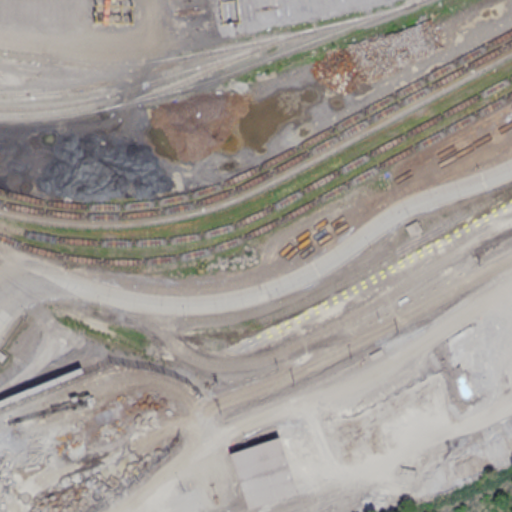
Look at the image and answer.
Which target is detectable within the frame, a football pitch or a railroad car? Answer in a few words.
railroad car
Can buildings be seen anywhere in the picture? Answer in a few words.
Yes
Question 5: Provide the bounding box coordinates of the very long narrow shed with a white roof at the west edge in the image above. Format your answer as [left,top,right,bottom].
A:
[0,369,84,408]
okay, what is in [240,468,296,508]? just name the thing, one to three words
building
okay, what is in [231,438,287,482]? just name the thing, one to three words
building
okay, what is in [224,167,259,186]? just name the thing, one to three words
rail car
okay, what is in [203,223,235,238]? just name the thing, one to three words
rail car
